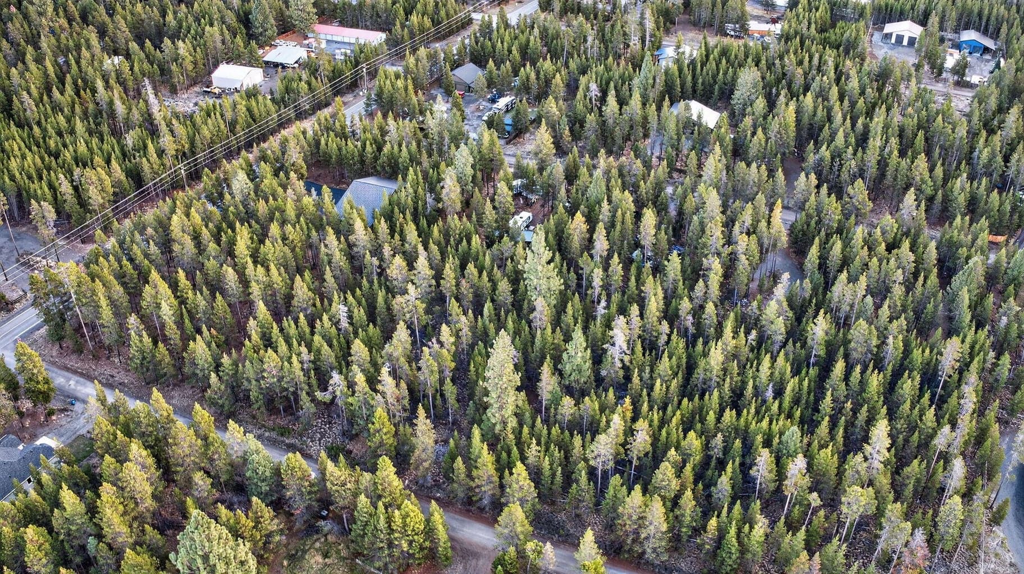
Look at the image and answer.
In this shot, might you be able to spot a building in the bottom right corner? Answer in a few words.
No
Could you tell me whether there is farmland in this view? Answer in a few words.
No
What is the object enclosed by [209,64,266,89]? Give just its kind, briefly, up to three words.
barn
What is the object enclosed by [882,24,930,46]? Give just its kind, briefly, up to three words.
building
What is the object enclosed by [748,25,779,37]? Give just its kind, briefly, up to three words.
building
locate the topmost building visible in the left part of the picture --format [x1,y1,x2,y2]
[306,24,386,44]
